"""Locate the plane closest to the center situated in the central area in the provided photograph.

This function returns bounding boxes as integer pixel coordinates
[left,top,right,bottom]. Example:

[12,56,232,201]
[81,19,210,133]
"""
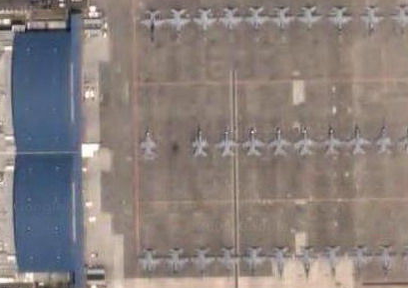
[191,125,207,157]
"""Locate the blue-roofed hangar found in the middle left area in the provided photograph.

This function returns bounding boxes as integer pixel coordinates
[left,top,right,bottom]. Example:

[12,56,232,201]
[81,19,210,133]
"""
[11,13,87,286]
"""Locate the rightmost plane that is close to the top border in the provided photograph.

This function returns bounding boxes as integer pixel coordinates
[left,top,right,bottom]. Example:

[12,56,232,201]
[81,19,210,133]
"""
[391,6,408,38]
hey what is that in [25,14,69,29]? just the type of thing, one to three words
building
